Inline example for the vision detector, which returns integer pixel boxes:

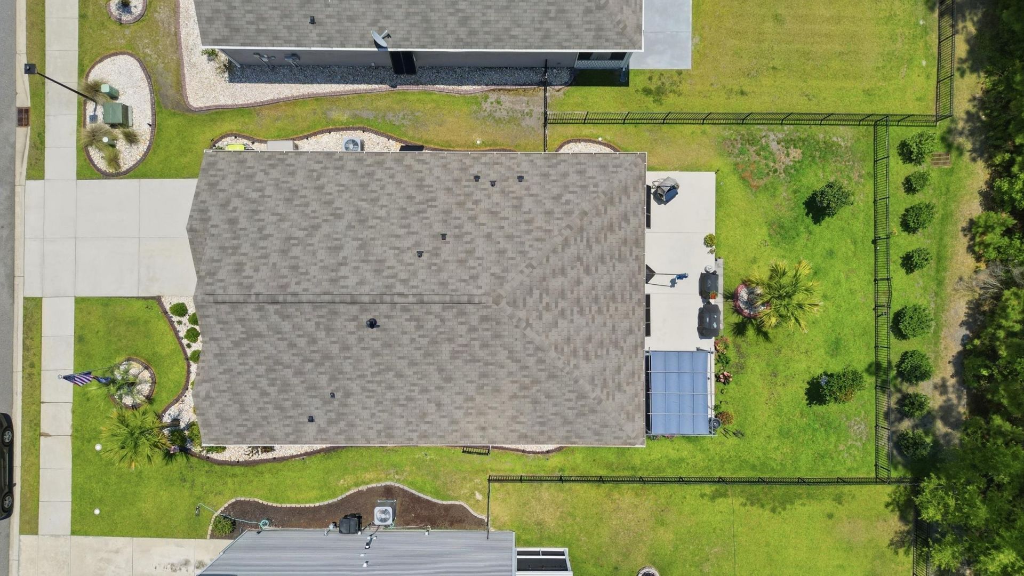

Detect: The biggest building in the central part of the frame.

[187,143,656,448]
